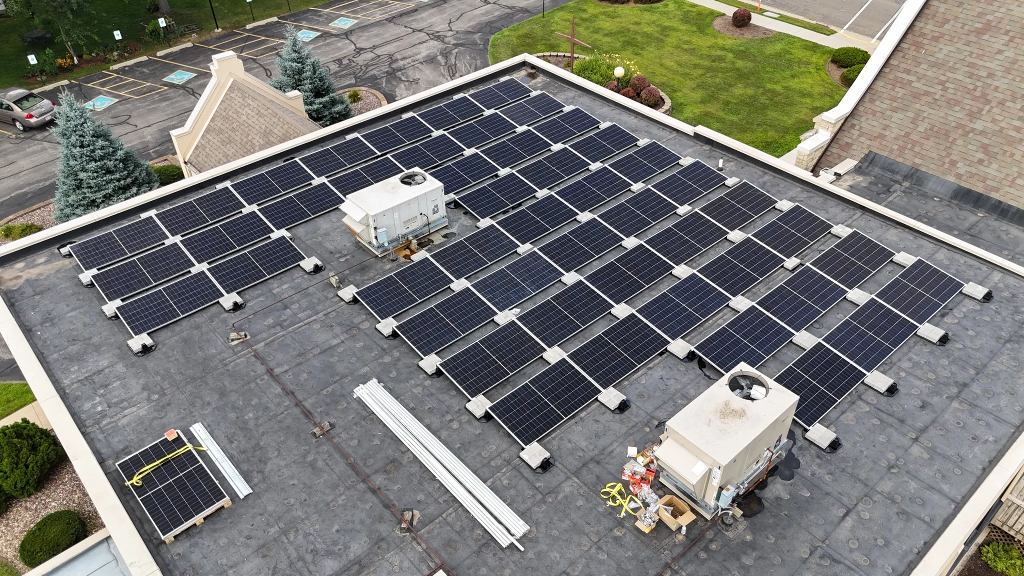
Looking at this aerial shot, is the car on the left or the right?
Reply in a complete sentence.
The car appears in the left half of the scene.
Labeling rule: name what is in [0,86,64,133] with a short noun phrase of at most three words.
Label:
car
